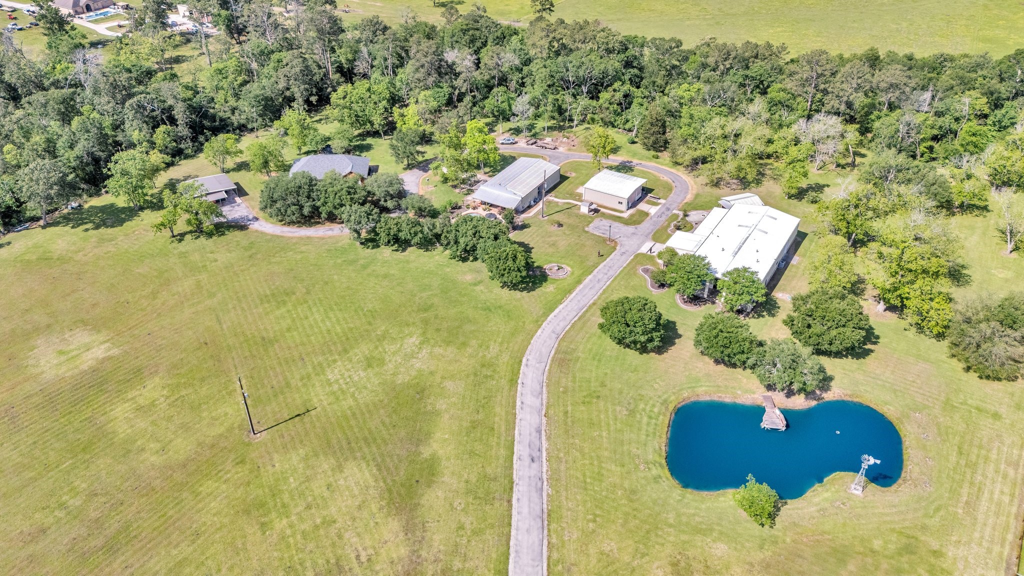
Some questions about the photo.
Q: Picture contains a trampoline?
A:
No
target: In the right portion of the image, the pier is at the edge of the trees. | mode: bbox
[759,396,788,434]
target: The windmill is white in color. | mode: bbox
[850,456,881,494]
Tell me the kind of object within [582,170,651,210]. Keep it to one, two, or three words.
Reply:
building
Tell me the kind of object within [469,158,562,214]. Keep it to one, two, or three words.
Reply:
building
